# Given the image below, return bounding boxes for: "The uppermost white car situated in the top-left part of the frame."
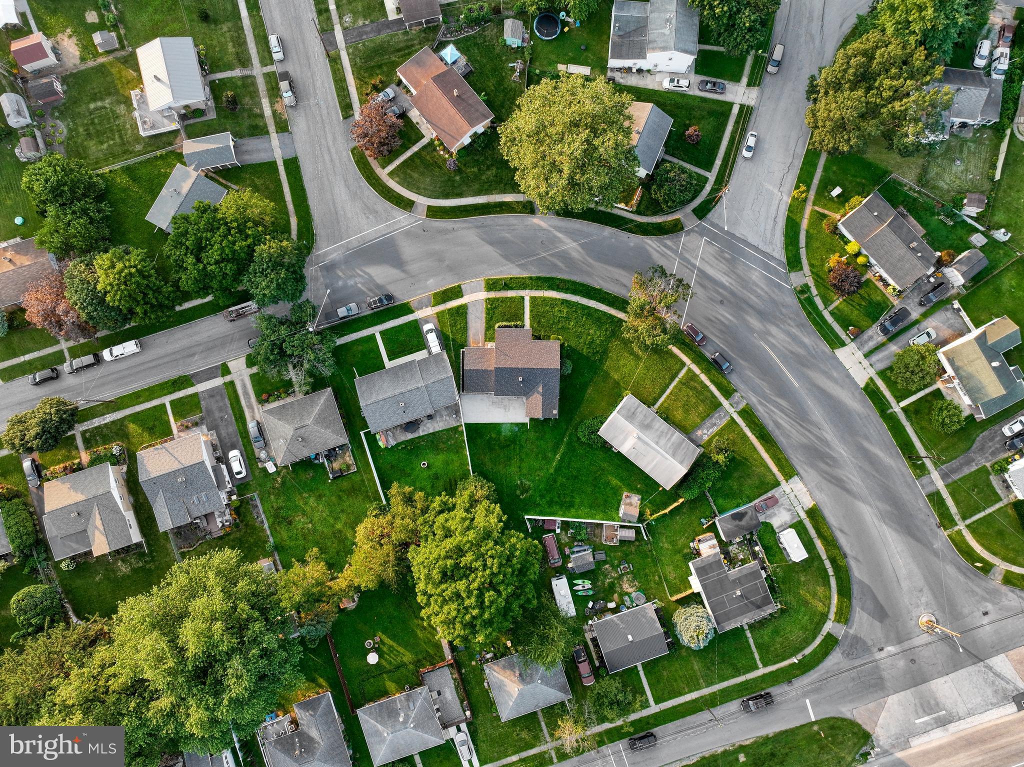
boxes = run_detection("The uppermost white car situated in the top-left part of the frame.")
[267,31,287,65]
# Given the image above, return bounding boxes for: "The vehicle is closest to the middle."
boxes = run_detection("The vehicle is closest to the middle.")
[424,320,443,355]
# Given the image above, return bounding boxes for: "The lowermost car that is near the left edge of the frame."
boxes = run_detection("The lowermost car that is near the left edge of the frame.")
[23,456,43,488]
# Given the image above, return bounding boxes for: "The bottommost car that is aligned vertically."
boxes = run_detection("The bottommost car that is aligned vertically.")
[456,729,472,761]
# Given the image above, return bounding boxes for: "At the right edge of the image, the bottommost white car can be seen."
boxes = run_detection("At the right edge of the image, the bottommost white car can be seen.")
[998,415,1024,438]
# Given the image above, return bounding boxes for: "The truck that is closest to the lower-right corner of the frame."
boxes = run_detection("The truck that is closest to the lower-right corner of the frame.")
[739,690,776,711]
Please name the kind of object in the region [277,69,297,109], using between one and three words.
vehicle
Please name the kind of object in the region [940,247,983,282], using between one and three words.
shed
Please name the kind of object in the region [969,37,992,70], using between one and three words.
car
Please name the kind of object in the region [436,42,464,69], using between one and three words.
gazebo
